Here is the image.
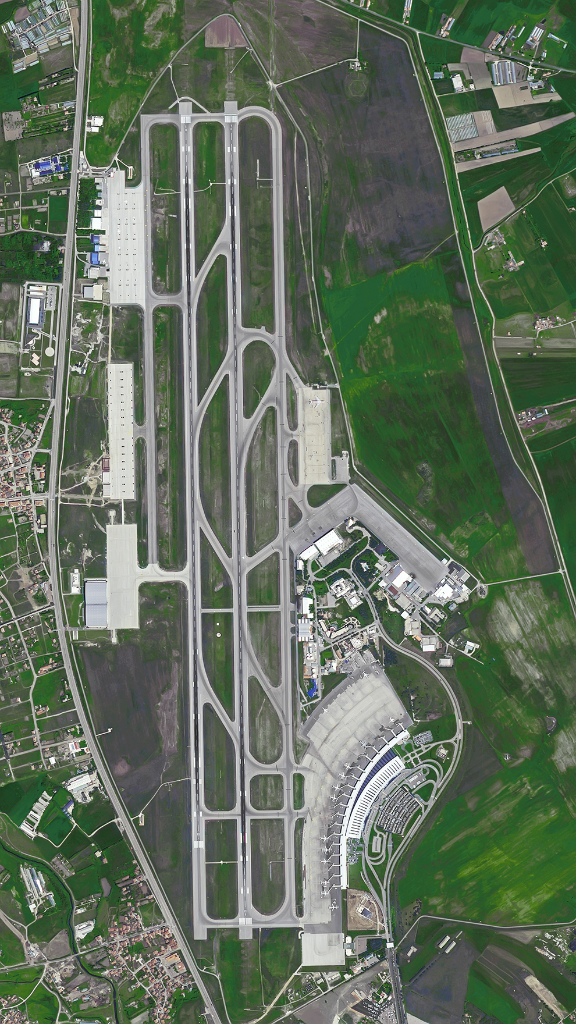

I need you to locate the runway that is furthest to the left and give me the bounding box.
[179,102,207,939]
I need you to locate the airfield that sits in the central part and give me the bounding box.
[106,97,449,966]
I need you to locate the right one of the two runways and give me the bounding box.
[224,101,252,939]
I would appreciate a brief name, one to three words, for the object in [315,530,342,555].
hangar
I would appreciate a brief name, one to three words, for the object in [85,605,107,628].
hangar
